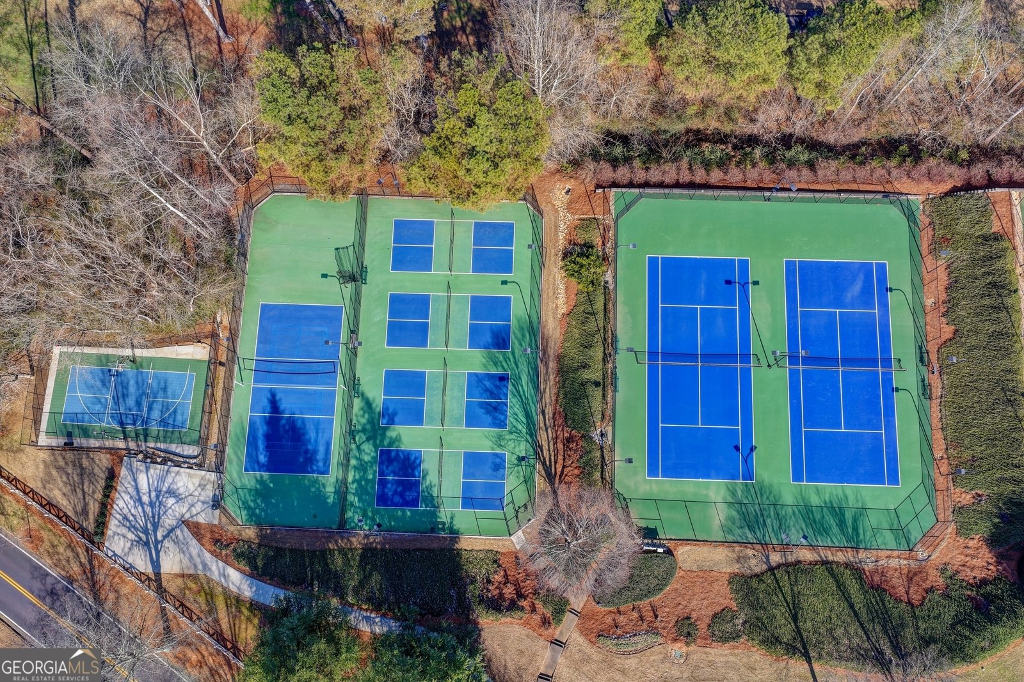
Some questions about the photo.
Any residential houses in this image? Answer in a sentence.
No, the picture doesn't show any residential house.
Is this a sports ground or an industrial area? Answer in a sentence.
This looks like a sports ground.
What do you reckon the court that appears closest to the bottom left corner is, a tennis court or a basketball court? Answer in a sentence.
In the photo, the court that appears closest to the bottom left corner shows up as a basketball court.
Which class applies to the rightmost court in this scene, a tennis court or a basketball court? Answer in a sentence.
The rightmost court appears to be a tennis court.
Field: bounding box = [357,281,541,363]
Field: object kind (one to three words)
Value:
sports court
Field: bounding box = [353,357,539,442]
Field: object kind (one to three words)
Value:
sports court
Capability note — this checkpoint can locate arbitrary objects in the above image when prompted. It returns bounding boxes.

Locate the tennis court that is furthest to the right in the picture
[765,193,936,550]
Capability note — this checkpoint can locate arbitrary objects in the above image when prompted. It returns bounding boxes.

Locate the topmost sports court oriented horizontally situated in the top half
[362,198,543,286]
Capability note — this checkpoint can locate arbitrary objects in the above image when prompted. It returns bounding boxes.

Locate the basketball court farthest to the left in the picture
[38,345,210,456]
